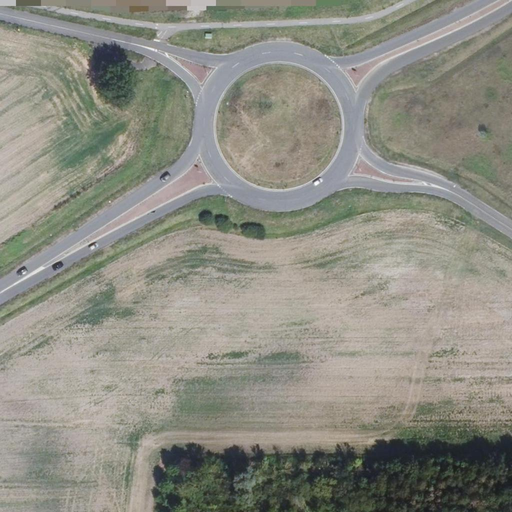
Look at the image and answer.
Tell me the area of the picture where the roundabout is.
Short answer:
top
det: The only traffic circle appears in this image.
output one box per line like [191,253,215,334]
[76,0,512,249]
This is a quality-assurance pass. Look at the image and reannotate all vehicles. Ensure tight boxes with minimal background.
[161,174,171,182]
[52,262,64,271]
[314,178,324,187]
[18,268,28,276]
[89,243,100,251]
